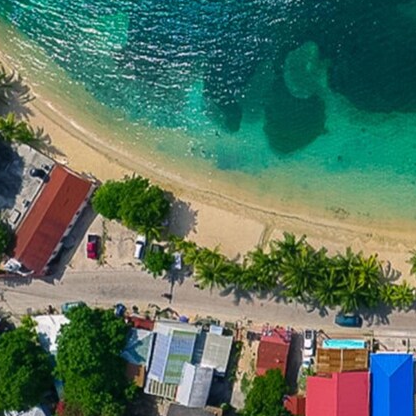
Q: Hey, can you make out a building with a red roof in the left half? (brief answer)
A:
Yes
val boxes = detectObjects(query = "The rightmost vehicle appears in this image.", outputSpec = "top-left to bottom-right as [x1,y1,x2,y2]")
[335,312,363,327]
